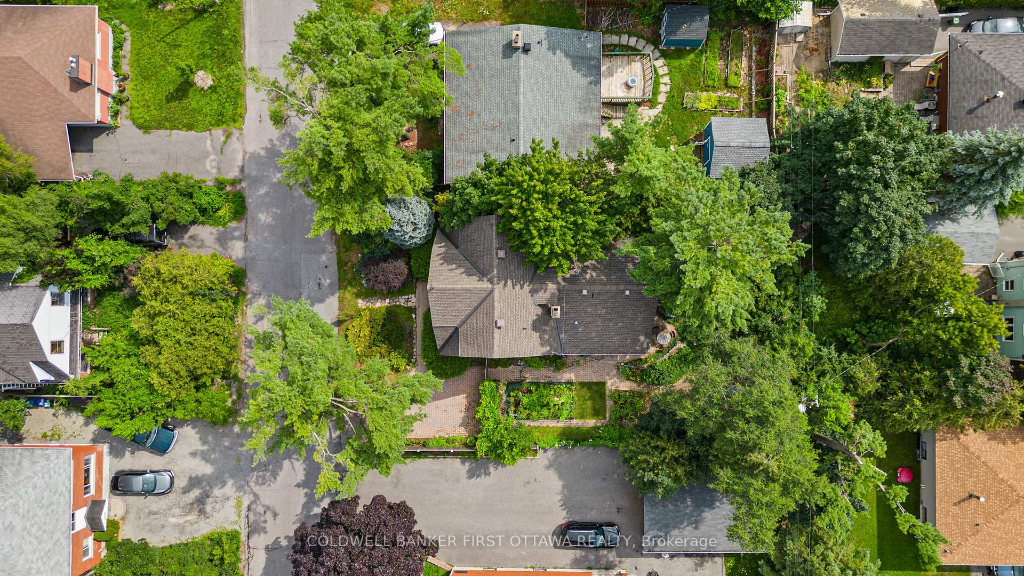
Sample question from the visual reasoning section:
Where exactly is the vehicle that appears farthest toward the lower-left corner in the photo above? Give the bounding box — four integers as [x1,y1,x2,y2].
[112,468,176,499]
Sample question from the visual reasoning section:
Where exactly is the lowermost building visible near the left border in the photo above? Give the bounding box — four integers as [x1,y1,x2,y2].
[0,441,121,576]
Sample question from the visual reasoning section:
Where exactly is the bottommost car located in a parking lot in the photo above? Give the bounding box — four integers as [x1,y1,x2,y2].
[562,519,620,552]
